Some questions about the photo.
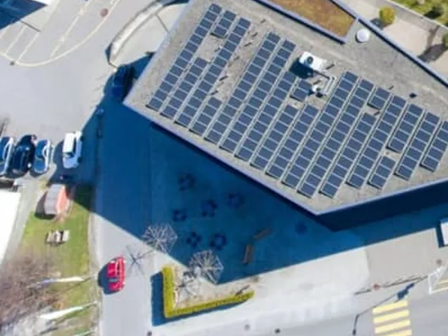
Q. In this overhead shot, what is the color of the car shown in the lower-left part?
red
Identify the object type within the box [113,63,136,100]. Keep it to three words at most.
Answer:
car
